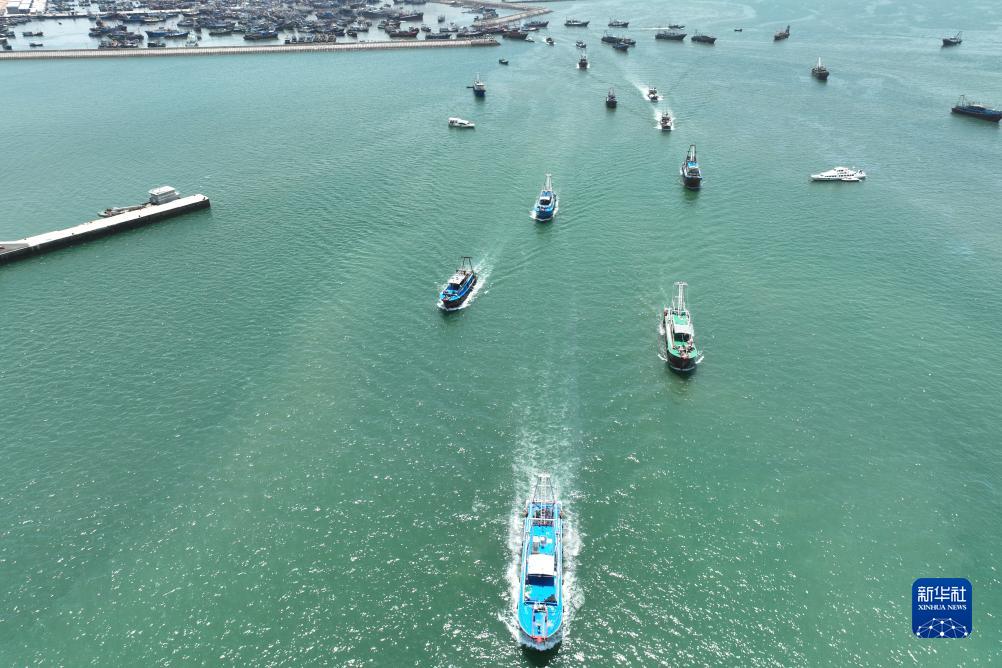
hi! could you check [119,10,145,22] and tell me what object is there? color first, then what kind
blue boat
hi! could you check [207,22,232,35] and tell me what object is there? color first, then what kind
gray boat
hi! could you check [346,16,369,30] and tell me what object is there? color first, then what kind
gray boat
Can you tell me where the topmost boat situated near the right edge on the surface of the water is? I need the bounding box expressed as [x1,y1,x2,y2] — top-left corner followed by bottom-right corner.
[945,26,967,45]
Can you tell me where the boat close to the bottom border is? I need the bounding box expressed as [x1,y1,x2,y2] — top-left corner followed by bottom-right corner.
[518,476,565,642]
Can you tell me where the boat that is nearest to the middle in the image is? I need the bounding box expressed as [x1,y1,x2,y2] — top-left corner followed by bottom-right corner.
[438,254,480,310]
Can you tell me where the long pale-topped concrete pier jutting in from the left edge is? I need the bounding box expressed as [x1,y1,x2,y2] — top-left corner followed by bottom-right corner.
[0,195,211,267]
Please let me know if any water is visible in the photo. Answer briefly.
Yes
